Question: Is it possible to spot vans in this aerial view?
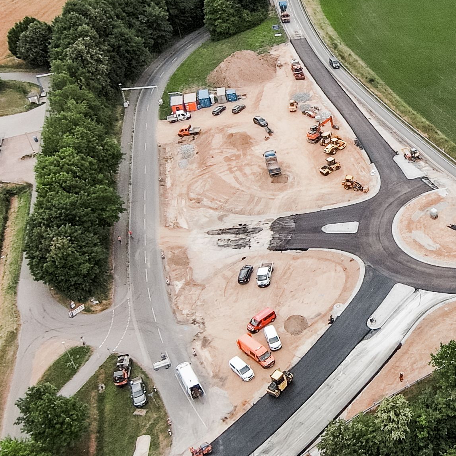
Yes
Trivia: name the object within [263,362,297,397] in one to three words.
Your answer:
work vehicle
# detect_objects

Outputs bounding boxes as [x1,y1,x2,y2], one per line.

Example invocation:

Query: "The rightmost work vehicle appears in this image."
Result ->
[401,145,420,159]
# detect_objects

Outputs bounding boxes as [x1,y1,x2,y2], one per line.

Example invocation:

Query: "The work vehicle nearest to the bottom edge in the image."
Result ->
[184,433,216,456]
